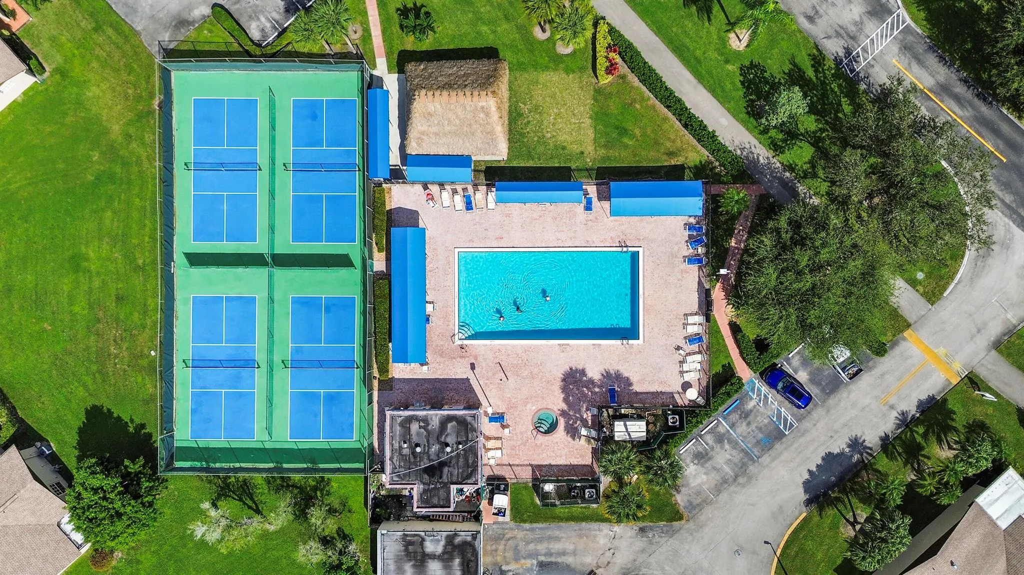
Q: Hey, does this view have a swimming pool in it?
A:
Yes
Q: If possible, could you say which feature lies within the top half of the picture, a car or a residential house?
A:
residential house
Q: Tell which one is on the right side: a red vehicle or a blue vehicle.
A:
blue vehicle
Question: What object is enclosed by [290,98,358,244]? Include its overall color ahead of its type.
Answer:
blue sports court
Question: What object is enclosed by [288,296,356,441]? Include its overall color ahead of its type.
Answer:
blue sports court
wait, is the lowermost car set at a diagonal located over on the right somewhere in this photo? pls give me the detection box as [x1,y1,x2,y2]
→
[761,365,814,410]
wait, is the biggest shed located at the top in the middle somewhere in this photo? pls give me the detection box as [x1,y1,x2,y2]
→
[403,56,512,165]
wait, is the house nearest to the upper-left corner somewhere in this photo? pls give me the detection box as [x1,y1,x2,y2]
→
[0,37,36,110]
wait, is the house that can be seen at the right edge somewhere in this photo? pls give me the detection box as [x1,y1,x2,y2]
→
[858,494,1024,575]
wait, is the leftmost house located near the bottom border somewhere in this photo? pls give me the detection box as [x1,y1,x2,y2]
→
[0,444,94,575]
